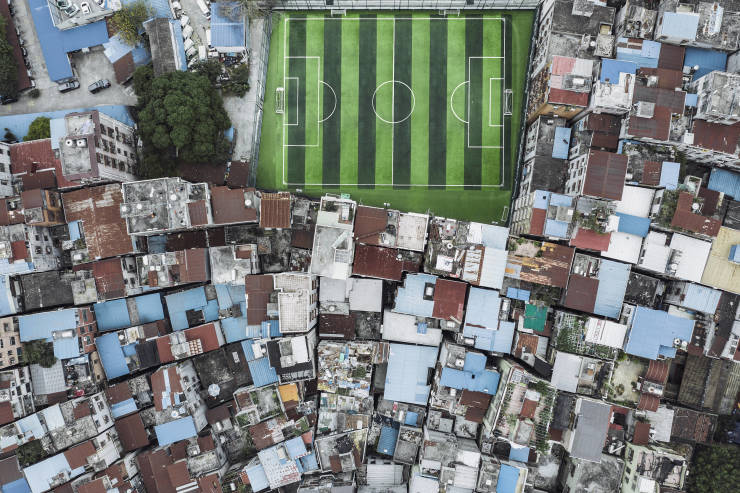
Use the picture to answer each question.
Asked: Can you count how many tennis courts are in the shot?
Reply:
none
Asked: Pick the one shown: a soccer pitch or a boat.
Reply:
soccer pitch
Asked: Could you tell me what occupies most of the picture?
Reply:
buildings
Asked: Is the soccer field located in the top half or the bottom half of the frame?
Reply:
top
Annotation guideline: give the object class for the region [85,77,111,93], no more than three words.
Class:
car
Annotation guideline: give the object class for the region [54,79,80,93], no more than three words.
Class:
vehicle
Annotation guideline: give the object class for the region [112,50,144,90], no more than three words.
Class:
shed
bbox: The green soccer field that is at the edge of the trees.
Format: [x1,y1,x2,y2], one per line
[252,9,539,226]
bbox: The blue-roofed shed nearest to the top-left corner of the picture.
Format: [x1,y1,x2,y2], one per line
[28,0,108,83]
